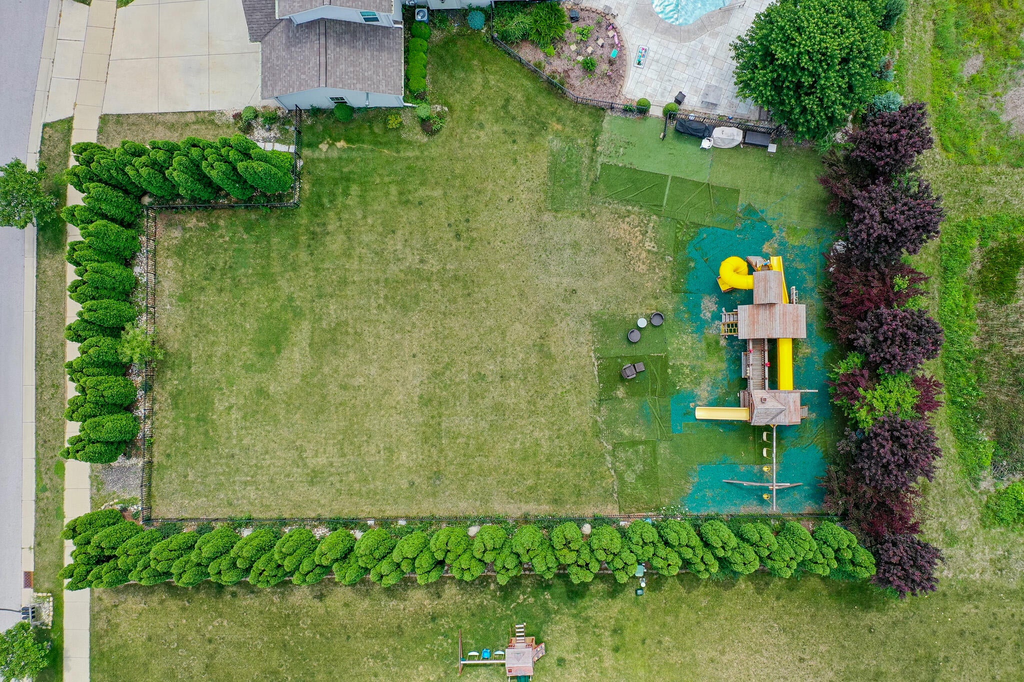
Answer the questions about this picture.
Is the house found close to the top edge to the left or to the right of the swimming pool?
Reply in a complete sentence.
You can see the house found close to the top edge positioned to the left of the swimming pool.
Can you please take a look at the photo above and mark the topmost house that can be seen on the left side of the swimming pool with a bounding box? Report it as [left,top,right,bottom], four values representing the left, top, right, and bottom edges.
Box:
[241,0,494,111]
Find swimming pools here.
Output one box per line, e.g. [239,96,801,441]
[629,0,746,42]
